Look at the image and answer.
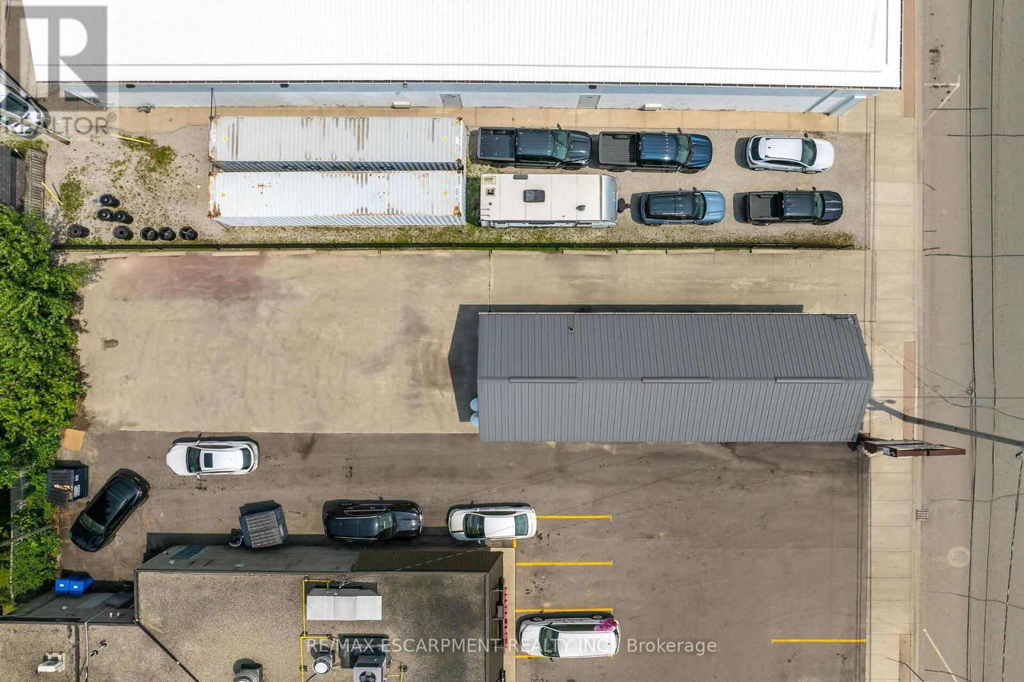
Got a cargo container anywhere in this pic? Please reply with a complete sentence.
Yes, a cargo container can be made out from above.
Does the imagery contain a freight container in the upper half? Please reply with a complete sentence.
Yes, I can see a freight container in the upper half.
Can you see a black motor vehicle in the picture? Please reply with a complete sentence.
Yes, this view includes a black motor vehicle.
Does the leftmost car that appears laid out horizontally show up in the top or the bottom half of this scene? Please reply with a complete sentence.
The leftmost car that appears laid out horizontally is in the bottom half of the image.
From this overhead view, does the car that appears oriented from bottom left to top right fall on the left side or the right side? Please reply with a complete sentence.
The car that appears oriented from bottom left to top right sits on the left side.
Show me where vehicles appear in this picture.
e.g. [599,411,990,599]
[477,121,591,168]
[166,440,262,481]
[519,614,621,664]
[324,505,424,550]
[0,64,51,137]
[744,133,834,174]
[747,184,845,226]
[598,126,713,173]
[640,186,725,226]
[71,467,151,553]
[448,507,537,549]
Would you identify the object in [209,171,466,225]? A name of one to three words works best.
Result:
shipping container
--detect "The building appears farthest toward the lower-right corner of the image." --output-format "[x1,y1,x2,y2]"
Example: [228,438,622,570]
[477,312,873,442]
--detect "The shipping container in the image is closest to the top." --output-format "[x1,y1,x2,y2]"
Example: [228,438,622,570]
[210,116,466,174]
